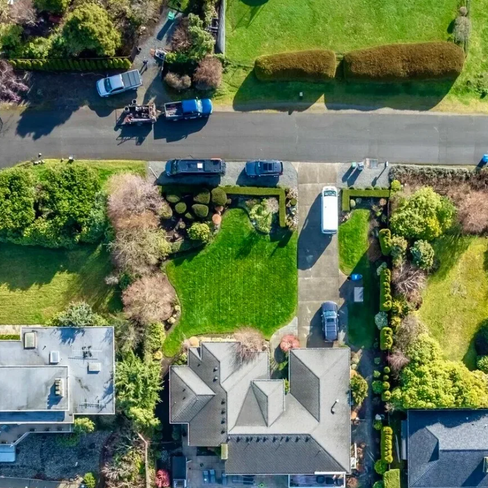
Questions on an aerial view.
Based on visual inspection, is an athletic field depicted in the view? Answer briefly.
No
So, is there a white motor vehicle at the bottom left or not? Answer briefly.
No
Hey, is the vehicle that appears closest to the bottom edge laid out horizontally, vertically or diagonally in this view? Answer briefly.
vertically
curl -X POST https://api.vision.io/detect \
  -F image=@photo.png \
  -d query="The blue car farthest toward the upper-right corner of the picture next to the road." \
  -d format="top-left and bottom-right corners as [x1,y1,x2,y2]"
[244,157,284,178]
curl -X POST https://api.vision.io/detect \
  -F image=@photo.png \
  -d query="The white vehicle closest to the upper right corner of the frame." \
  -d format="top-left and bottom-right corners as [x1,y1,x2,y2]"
[319,186,341,236]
